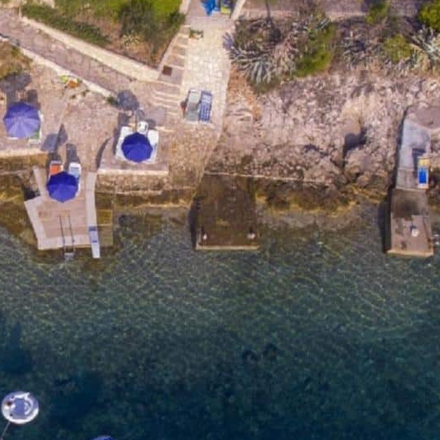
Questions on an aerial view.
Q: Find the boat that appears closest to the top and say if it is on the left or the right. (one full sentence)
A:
The boat that appears closest to the top sits on the left side.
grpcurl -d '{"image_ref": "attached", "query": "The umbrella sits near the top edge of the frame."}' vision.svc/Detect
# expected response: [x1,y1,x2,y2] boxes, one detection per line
[197,0,221,25]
